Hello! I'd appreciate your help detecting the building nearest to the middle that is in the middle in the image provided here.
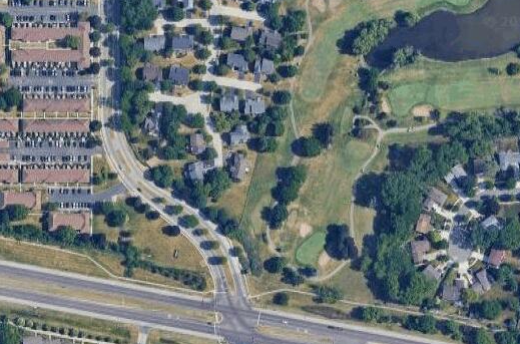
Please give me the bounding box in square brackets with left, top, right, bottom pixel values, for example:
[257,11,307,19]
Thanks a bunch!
[233,154,251,180]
